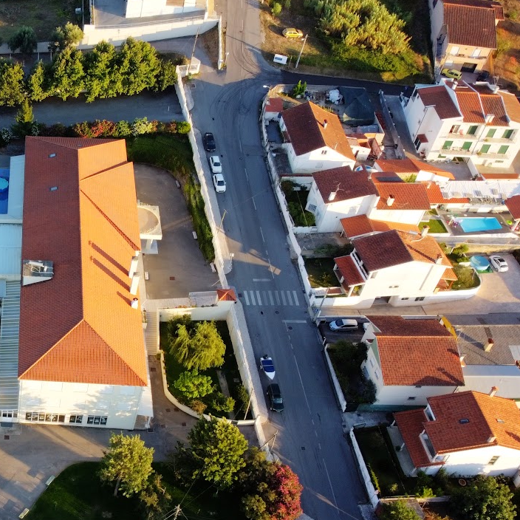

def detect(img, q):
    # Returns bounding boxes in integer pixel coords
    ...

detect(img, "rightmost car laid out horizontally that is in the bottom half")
[329,318,360,331]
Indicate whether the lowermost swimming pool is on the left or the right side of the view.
right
